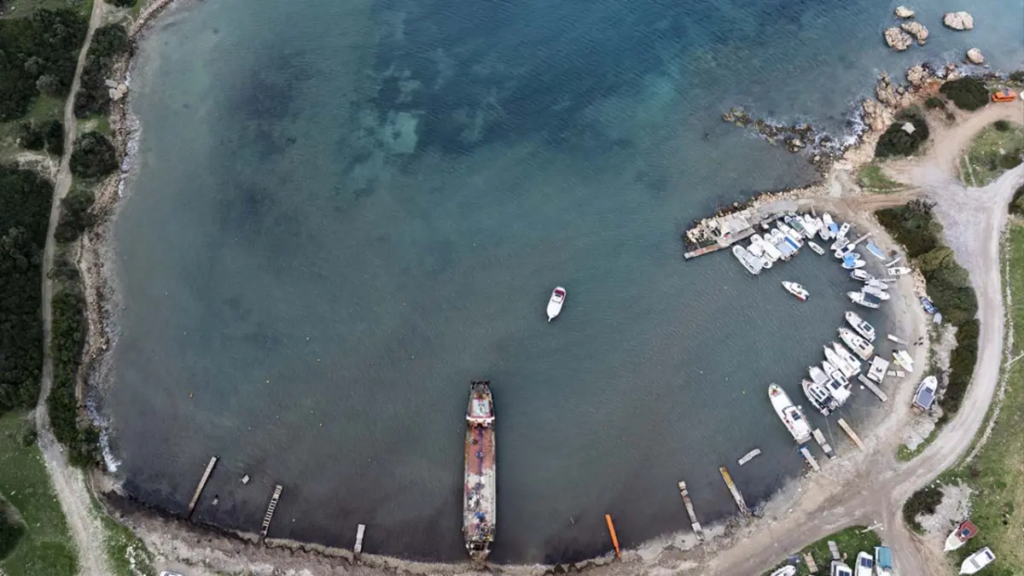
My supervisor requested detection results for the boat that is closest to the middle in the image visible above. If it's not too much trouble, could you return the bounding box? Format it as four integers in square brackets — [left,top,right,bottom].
[547,285,566,321]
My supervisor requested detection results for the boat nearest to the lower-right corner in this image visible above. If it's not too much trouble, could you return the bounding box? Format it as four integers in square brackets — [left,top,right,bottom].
[958,548,997,576]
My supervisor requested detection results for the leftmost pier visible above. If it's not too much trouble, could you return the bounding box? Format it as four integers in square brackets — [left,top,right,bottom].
[187,456,219,515]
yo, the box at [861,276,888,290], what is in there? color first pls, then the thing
white boat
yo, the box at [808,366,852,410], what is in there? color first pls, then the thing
white boat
